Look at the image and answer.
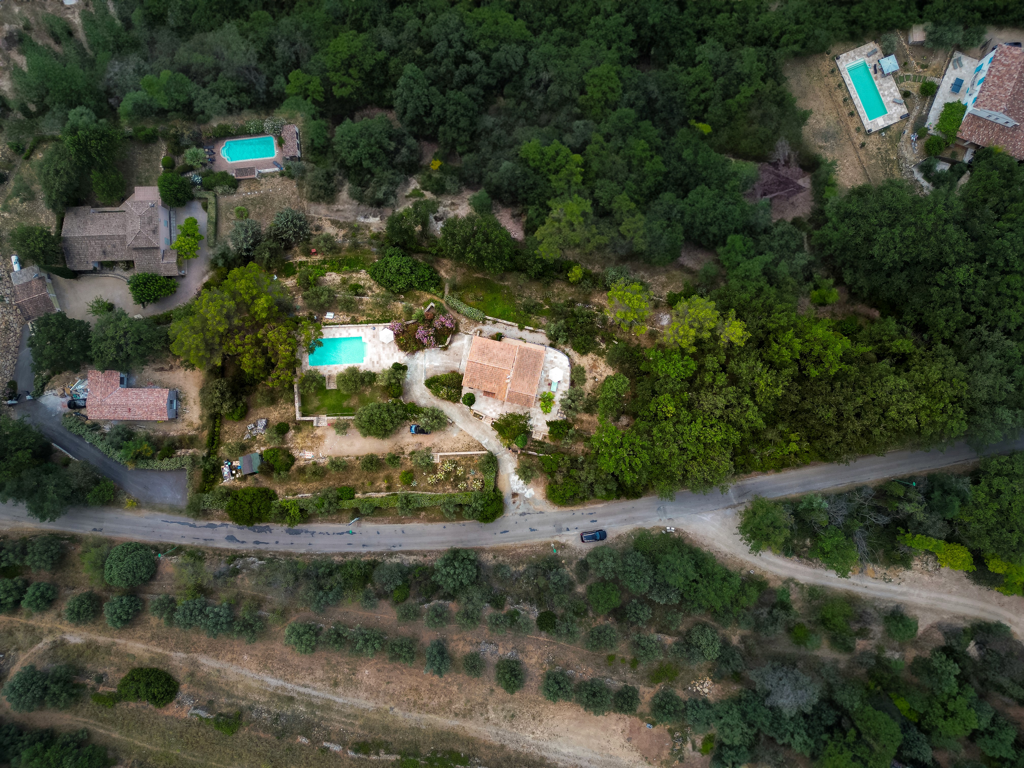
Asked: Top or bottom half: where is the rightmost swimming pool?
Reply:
top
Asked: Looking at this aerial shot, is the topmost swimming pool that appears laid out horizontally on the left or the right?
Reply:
left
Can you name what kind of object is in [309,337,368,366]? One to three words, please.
swimming pool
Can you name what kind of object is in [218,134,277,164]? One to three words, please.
swimming pool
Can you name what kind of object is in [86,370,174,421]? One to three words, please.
house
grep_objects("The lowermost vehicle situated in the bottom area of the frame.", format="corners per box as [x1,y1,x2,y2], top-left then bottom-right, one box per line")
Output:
[580,529,607,542]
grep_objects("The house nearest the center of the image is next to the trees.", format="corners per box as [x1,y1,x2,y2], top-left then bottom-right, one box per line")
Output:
[461,335,546,408]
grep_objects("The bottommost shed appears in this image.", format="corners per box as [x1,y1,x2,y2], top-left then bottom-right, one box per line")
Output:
[239,453,264,475]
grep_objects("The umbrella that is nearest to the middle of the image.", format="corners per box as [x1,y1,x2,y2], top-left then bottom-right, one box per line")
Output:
[549,367,563,382]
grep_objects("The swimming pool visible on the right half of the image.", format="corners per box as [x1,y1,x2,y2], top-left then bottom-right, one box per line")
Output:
[845,57,889,122]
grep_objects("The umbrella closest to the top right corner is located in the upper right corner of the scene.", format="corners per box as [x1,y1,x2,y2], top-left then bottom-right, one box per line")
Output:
[878,54,899,75]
